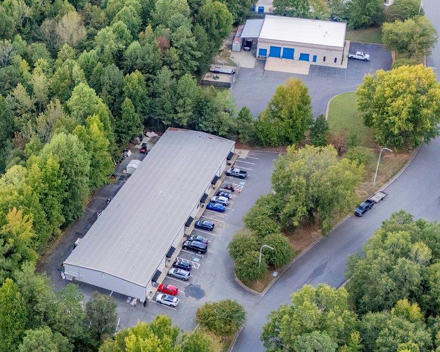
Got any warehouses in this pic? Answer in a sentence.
Yes, there's a warehouse down there.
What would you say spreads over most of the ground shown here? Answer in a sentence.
For the most part, this view shows trees.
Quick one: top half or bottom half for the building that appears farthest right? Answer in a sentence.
It is in the top half that the building that appears farthest right appears.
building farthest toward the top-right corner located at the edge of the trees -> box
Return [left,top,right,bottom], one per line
[257,16,346,65]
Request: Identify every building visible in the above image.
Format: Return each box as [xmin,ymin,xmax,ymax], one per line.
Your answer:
[257,16,346,65]
[63,126,239,304]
